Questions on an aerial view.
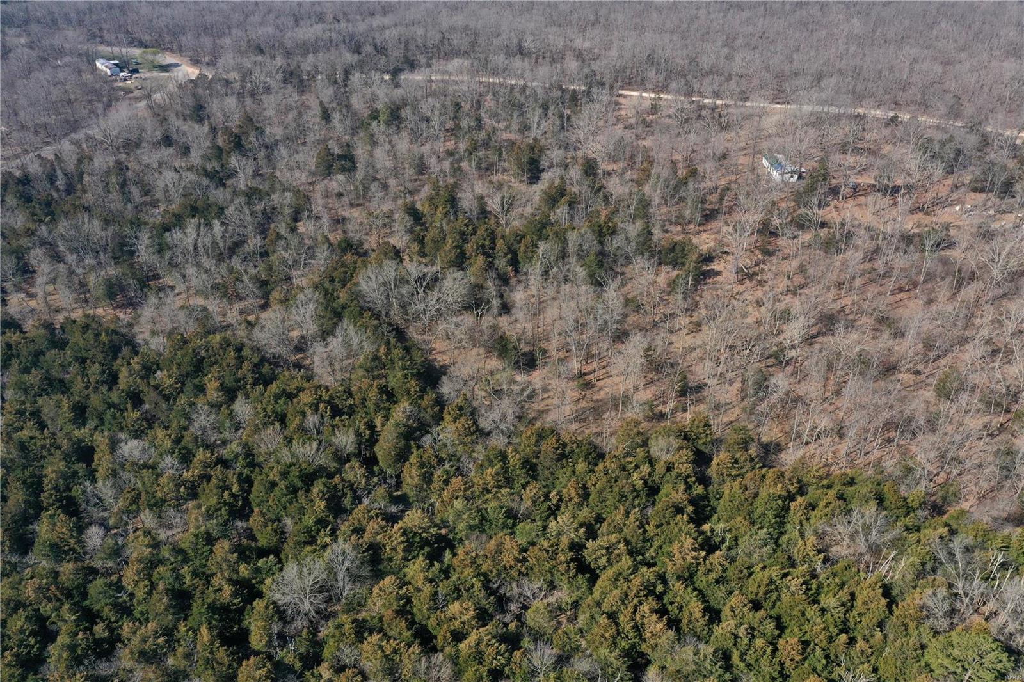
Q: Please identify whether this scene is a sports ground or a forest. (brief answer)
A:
forest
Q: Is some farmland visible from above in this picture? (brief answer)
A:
No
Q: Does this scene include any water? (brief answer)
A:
No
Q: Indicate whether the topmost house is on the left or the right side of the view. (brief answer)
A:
left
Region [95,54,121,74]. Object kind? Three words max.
house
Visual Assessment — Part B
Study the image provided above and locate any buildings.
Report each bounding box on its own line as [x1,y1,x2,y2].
[761,157,798,185]
[95,54,121,74]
